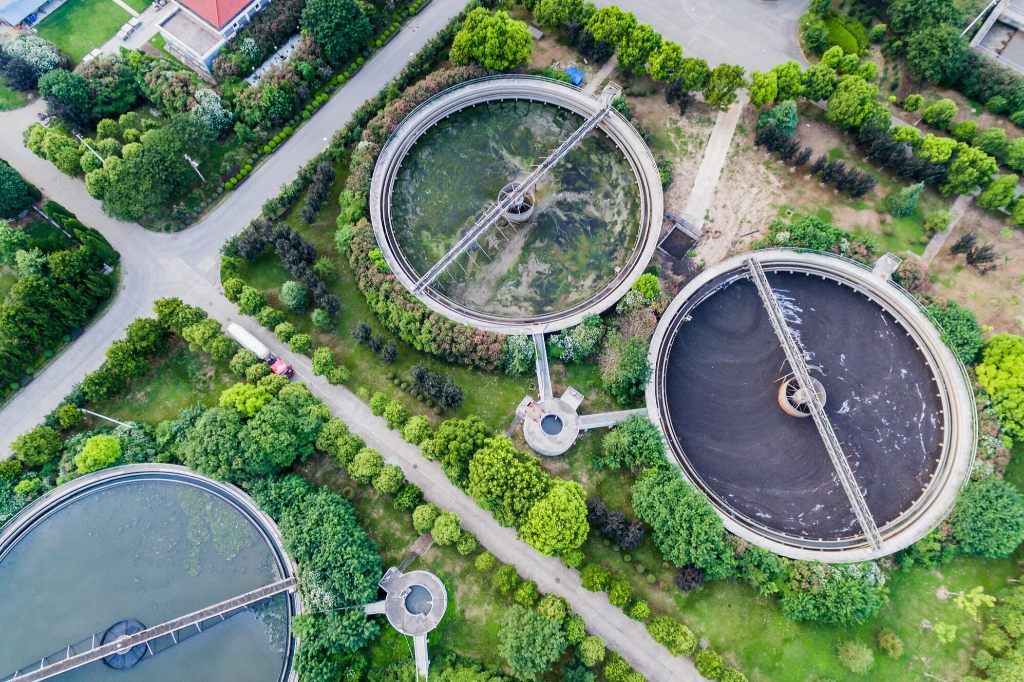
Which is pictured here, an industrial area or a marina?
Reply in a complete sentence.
This looks like an industrial area.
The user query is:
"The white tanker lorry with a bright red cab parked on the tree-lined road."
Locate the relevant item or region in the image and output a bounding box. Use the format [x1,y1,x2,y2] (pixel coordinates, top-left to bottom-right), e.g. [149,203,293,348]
[224,320,297,381]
